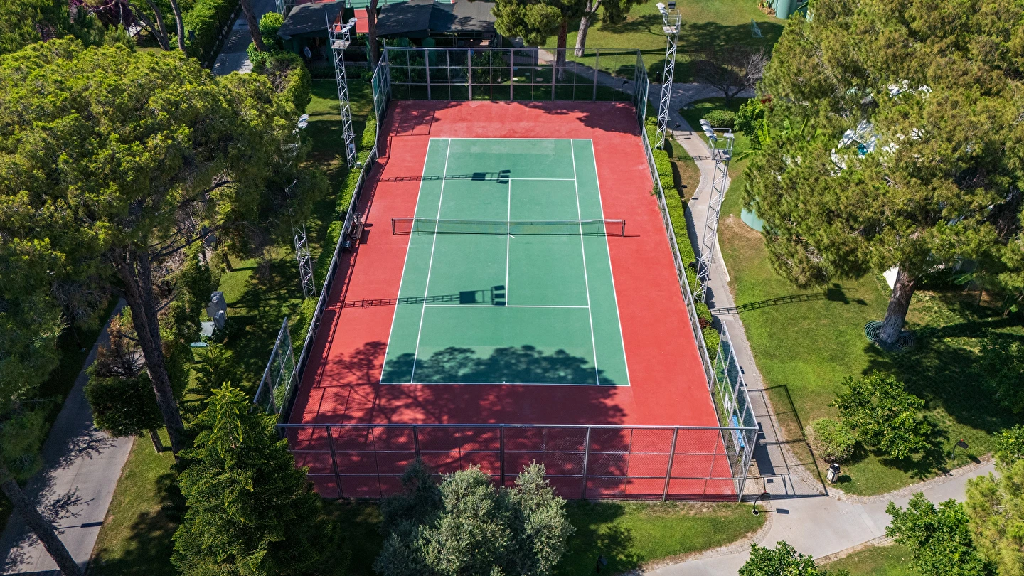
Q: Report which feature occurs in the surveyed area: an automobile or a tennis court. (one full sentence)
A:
The one in the frame is a tennis court.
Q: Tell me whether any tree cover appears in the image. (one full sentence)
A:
Yes, tree cover shows up in the scene.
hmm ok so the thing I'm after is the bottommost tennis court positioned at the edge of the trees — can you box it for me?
[278,99,740,503]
